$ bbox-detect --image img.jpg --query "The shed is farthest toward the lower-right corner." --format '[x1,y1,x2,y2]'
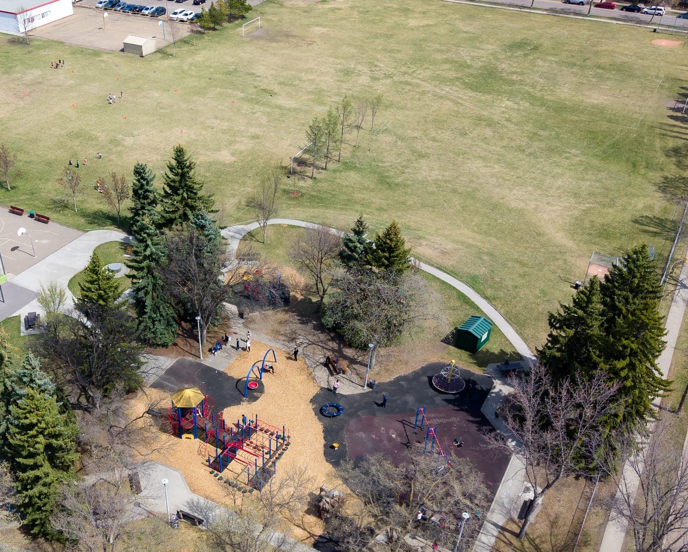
[457,311,495,355]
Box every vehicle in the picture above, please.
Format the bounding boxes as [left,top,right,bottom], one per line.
[189,12,201,22]
[169,8,186,20]
[179,13,193,22]
[594,2,615,10]
[92,0,106,9]
[678,13,688,20]
[120,3,135,13]
[151,6,166,16]
[140,6,155,15]
[564,0,589,6]
[104,0,120,8]
[621,6,642,14]
[112,1,128,10]
[193,0,207,6]
[130,5,145,14]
